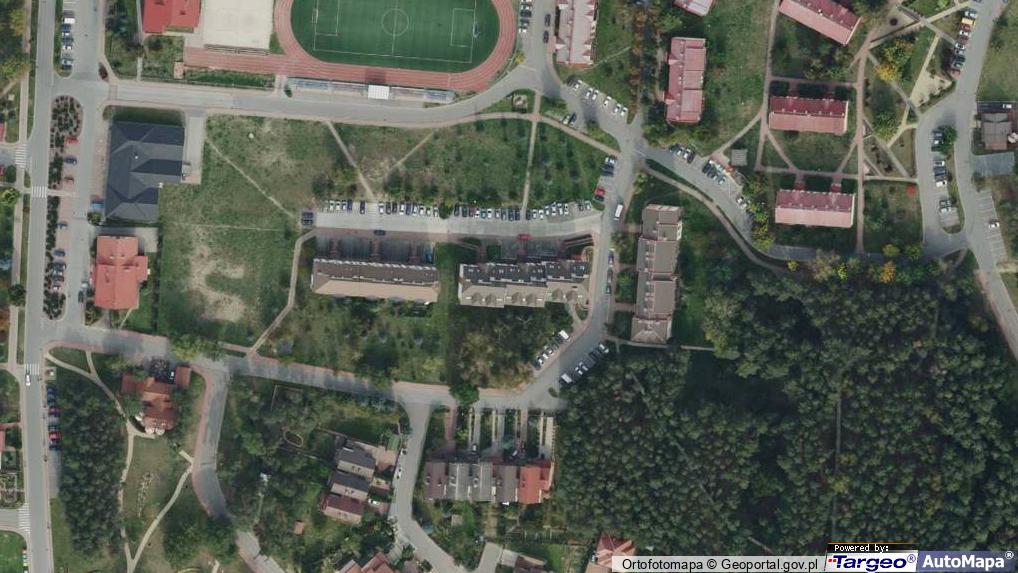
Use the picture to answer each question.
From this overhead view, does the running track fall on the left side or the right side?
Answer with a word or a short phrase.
left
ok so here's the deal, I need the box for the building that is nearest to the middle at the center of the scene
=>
[458,262,590,307]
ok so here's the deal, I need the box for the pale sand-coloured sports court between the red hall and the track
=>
[204,0,273,50]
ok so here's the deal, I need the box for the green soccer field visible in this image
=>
[291,0,497,72]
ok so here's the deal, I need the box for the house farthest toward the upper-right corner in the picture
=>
[983,113,1013,150]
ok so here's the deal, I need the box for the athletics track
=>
[183,0,514,89]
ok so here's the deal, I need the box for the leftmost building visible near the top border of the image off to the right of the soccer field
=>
[556,0,598,68]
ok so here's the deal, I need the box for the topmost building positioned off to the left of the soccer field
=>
[140,0,200,34]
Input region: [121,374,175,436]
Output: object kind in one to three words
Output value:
building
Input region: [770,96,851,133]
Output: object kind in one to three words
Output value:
building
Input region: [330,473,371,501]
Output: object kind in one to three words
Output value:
house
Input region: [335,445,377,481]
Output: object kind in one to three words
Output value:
house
